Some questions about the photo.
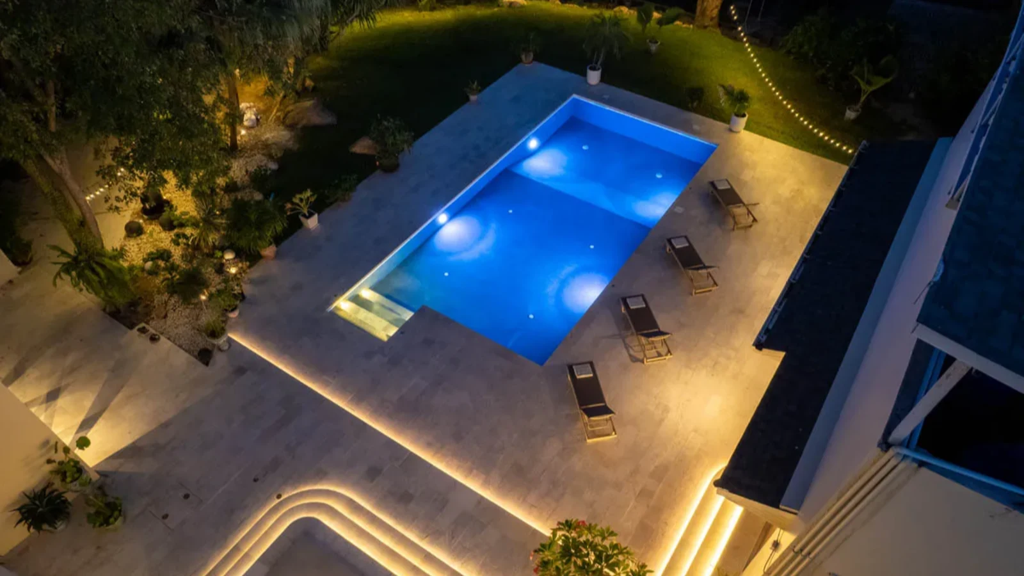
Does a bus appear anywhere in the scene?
No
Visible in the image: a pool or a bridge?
pool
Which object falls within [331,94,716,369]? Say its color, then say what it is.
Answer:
blue swimming pool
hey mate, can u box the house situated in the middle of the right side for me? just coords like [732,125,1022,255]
[715,2,1024,576]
